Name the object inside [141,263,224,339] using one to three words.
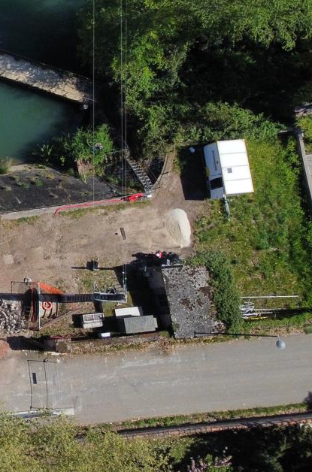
building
